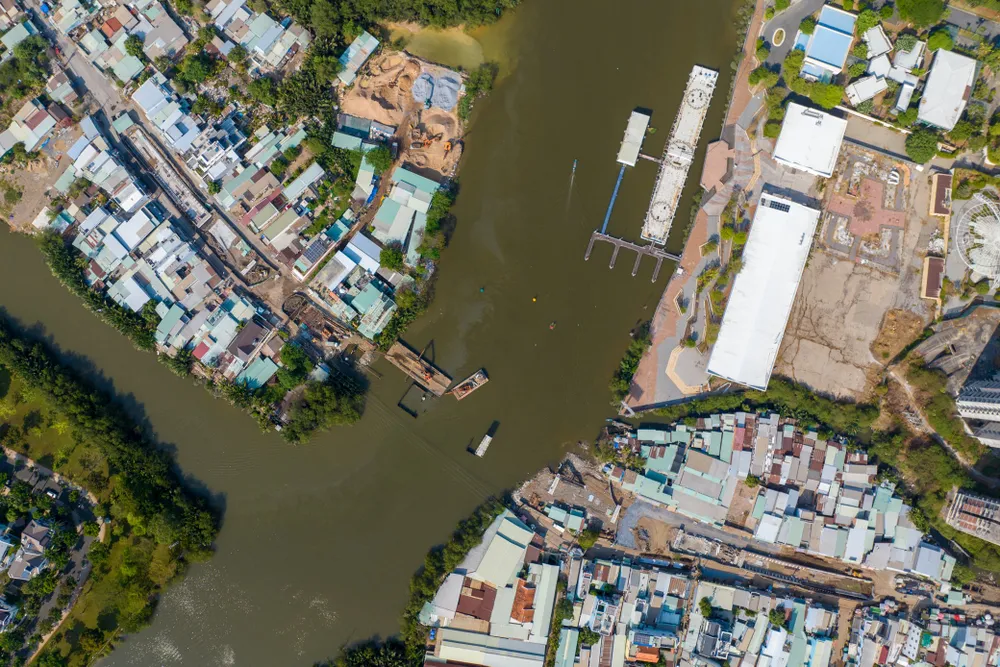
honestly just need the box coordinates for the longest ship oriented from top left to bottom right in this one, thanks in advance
[385,343,452,396]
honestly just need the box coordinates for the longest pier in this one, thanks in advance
[639,65,719,246]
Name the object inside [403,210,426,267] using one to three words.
house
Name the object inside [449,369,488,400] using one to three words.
ship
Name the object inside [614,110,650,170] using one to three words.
pier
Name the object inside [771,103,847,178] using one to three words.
building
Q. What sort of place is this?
residential area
